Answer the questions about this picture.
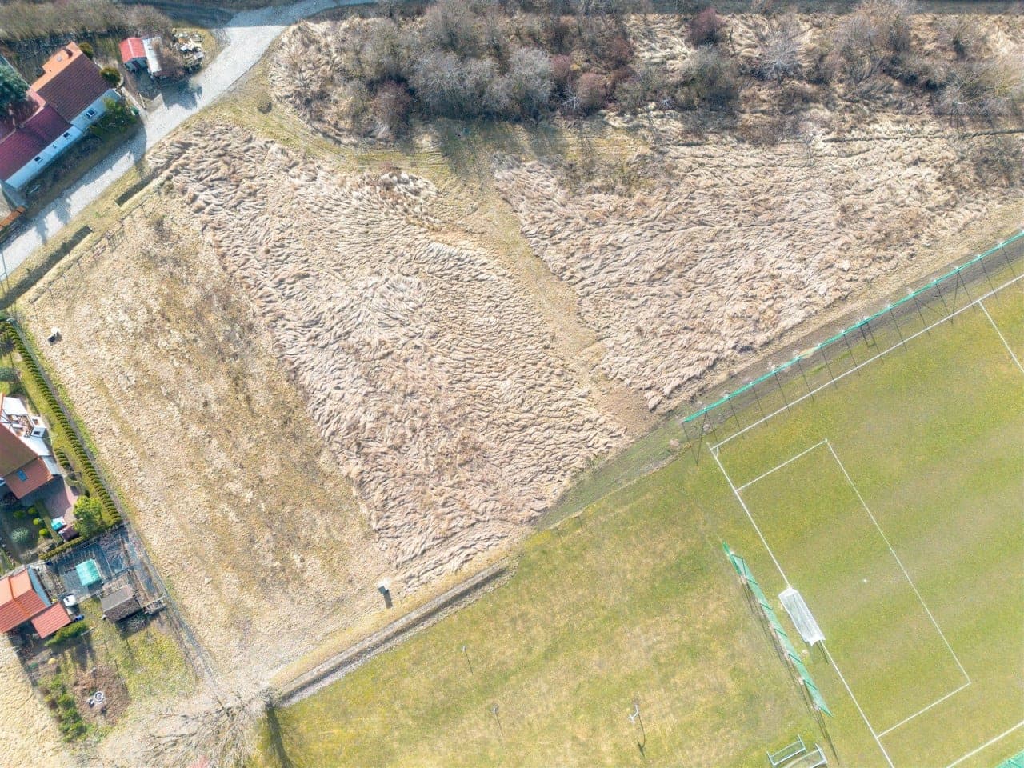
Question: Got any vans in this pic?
No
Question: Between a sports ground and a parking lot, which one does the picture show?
sports ground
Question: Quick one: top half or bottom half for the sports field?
bottom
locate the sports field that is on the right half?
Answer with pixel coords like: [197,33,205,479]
[270,259,1024,768]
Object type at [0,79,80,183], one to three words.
house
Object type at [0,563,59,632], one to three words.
house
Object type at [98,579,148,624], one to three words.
shed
